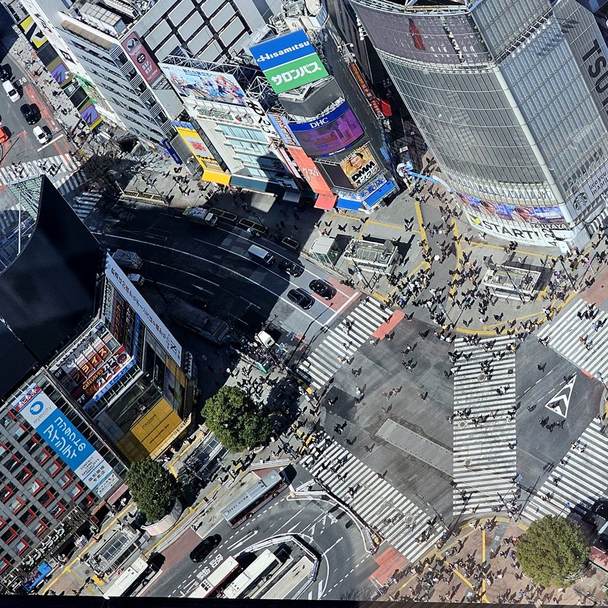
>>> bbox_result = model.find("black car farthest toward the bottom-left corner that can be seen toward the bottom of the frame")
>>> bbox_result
[188,533,222,562]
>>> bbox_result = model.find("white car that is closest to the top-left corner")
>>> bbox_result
[2,81,18,102]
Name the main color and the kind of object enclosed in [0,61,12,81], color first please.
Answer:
black vehicle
